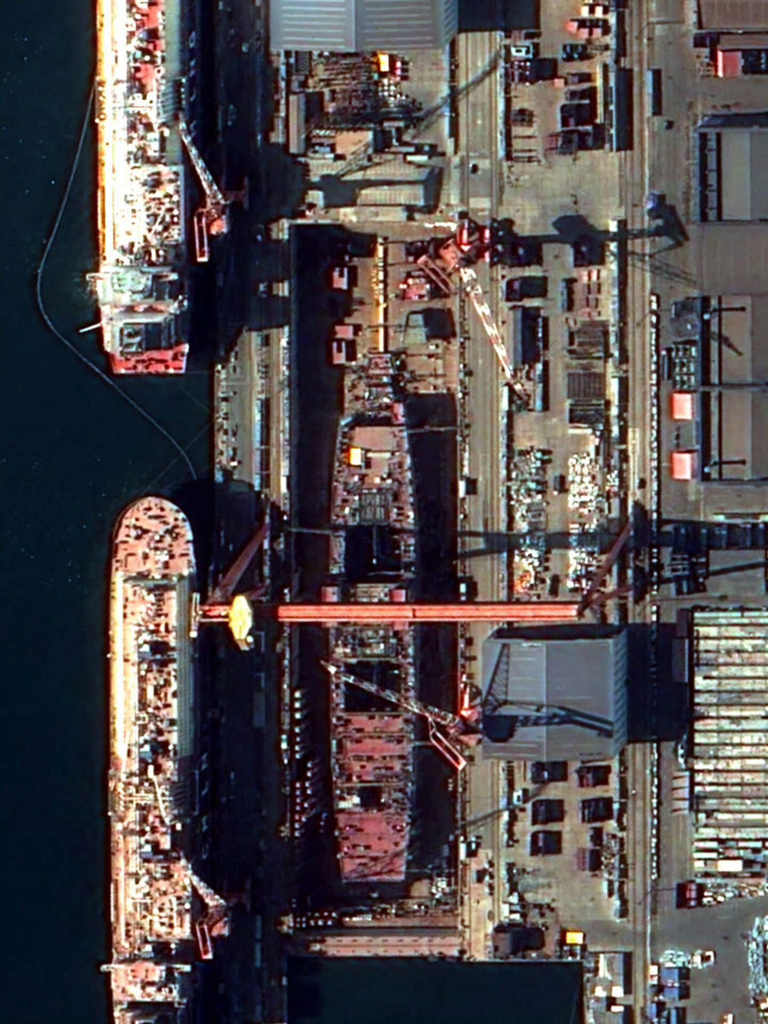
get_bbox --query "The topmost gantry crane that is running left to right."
[191,512,632,649]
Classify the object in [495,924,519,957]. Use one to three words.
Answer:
building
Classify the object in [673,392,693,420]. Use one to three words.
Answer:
shed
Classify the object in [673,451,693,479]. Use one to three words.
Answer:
shed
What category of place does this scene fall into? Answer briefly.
port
